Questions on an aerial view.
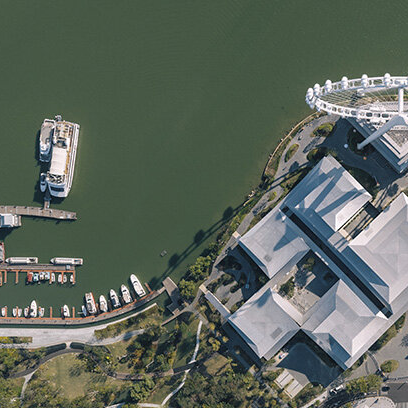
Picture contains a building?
Yes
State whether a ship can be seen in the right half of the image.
No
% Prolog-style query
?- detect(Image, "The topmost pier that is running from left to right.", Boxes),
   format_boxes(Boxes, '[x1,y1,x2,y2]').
[0,205,77,220]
